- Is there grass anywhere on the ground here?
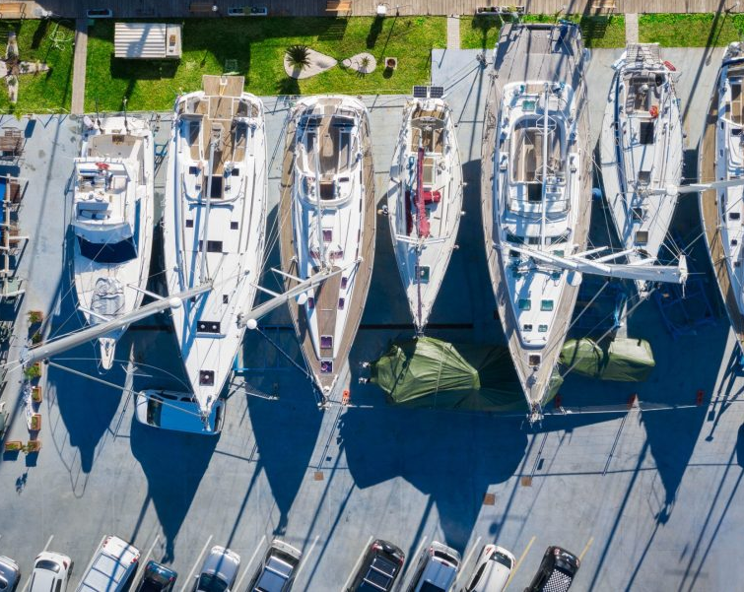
Yes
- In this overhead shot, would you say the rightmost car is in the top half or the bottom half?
bottom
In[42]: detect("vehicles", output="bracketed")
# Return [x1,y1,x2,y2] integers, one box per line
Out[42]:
[455,541,517,592]
[0,553,28,592]
[241,537,305,592]
[132,557,182,592]
[17,547,76,592]
[185,543,245,592]
[398,536,464,592]
[342,536,408,592]
[519,544,581,592]
[76,534,146,592]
